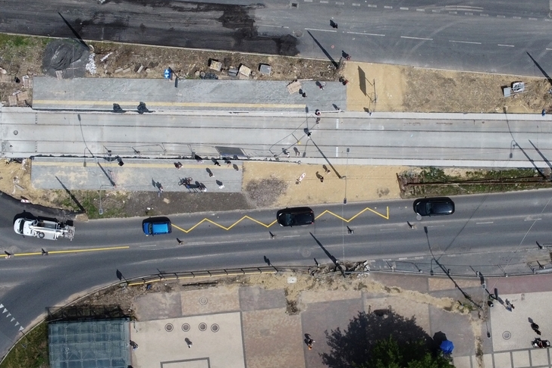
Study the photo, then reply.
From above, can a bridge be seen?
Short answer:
No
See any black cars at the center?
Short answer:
Yes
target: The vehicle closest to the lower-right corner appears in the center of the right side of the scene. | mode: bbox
[413,198,454,217]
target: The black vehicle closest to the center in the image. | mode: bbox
[277,207,315,226]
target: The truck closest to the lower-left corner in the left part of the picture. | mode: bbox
[15,215,82,240]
